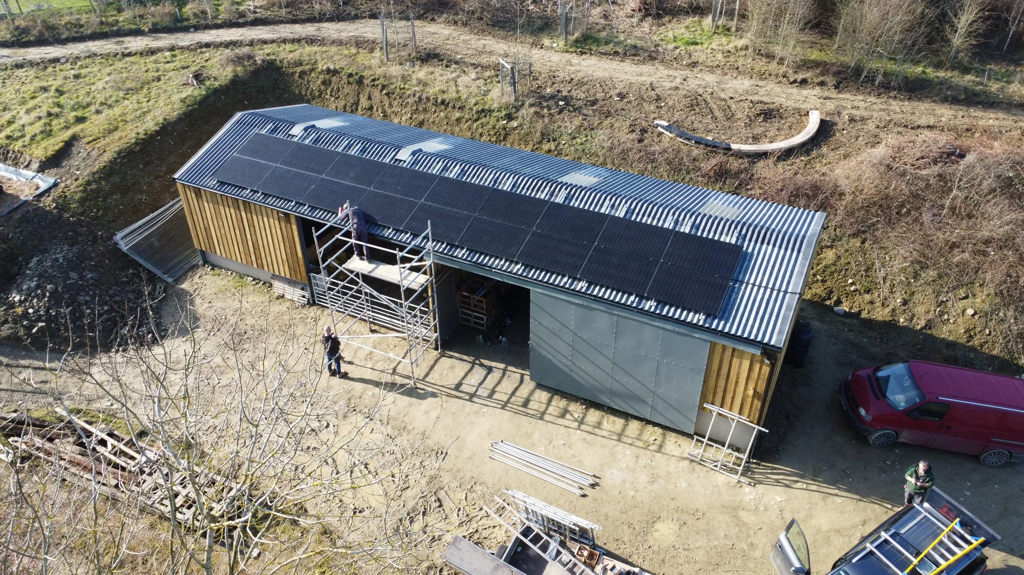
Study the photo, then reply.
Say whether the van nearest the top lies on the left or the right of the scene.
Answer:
right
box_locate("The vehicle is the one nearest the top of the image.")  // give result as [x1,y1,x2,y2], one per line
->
[837,360,1024,476]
